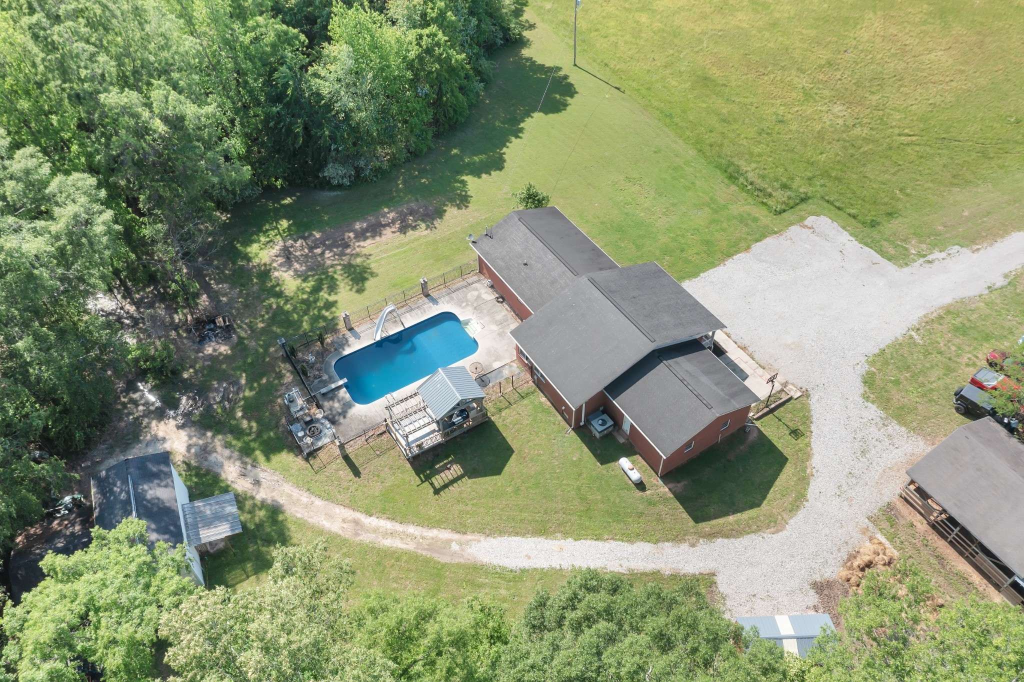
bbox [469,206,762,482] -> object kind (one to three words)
house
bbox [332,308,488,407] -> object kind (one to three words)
swimming pool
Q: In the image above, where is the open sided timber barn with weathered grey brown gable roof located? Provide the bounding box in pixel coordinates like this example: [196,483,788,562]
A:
[896,418,1024,618]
